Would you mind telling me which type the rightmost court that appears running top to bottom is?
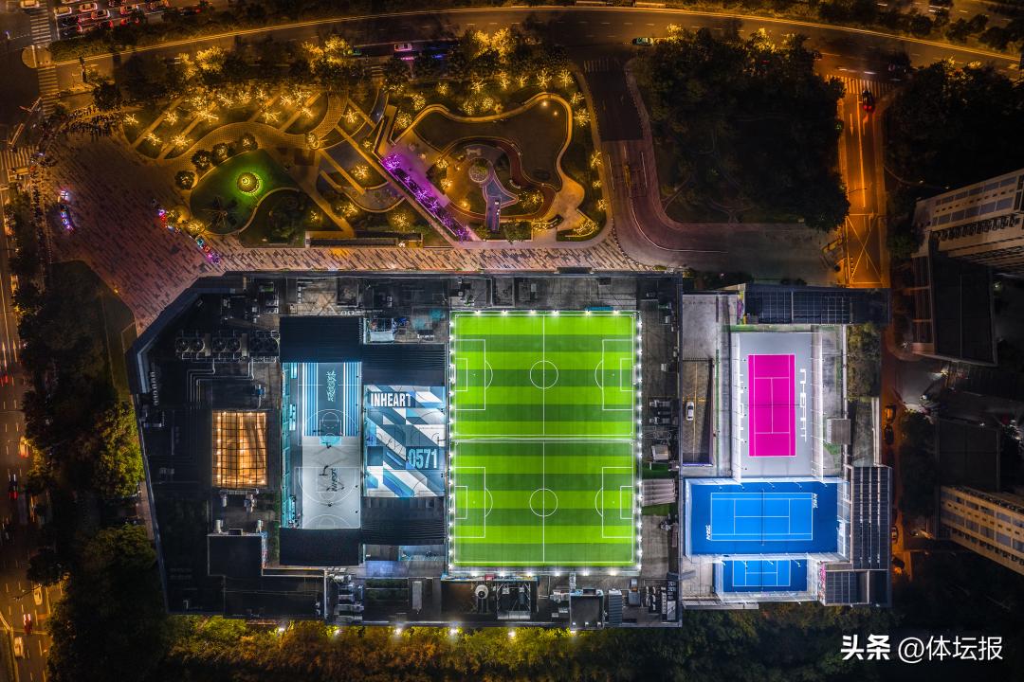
tennis court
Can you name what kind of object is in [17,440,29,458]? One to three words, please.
vehicle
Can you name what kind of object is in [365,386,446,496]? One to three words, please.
basketball court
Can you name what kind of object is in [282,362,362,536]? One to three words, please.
basketball court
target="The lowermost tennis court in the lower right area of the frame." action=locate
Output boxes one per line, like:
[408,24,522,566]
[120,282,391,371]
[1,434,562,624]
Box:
[721,555,808,594]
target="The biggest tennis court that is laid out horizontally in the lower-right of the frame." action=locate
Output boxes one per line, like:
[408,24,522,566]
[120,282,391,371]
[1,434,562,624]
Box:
[690,483,839,556]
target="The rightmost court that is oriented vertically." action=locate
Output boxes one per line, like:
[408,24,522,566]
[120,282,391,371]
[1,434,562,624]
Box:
[740,332,813,479]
